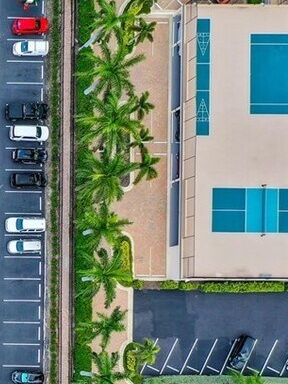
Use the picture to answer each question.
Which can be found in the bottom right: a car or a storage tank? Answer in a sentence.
There is a car in the bottom right.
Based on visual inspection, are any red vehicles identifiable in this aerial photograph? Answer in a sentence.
Yes, a red vehicle appears in the view.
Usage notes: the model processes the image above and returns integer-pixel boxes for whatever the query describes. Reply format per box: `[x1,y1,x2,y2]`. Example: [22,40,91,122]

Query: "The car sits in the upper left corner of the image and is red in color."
[11,17,49,36]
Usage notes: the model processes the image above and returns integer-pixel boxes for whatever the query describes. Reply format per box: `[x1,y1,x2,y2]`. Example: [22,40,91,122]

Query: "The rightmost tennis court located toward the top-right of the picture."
[250,34,288,115]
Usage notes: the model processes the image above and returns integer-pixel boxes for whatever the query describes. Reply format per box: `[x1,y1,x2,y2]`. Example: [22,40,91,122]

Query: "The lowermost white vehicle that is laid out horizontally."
[6,238,41,255]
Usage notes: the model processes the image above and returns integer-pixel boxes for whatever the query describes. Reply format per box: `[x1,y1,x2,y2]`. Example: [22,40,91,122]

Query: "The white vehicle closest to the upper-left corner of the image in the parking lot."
[12,39,49,58]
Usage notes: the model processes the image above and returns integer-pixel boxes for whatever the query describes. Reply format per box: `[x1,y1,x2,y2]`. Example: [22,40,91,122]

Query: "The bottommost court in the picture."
[212,184,288,235]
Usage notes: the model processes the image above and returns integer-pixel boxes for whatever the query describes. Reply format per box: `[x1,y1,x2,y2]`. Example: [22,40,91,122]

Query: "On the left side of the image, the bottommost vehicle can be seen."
[10,370,44,384]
